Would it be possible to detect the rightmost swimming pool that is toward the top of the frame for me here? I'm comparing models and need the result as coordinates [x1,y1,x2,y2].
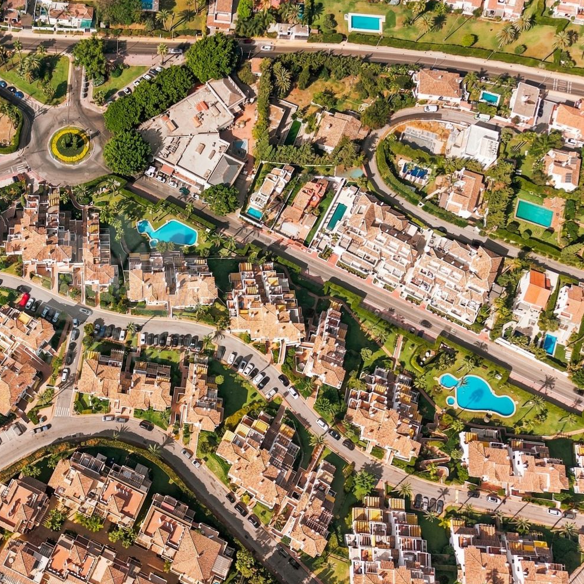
[513,197,556,229]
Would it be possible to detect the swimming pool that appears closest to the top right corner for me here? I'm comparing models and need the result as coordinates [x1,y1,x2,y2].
[480,89,501,106]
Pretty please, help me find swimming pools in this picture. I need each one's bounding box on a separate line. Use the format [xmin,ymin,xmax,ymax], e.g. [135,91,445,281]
[541,332,560,356]
[139,0,158,11]
[405,159,433,182]
[349,12,382,32]
[134,218,199,248]
[445,394,457,407]
[230,138,249,156]
[326,201,349,231]
[245,203,266,221]
[439,371,459,389]
[455,372,518,418]
[513,197,556,229]
[480,89,501,106]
